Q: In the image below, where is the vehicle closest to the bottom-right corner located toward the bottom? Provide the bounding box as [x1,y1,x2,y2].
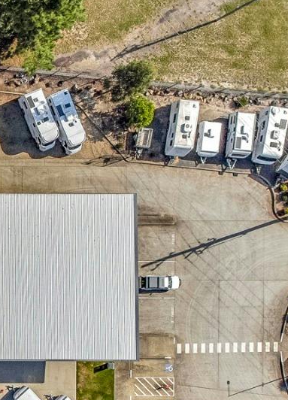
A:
[138,273,179,292]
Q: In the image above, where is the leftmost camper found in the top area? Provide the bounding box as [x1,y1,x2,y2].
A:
[13,89,59,155]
